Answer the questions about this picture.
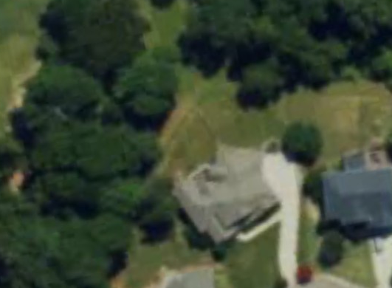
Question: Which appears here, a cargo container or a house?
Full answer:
This aerial view contains a house.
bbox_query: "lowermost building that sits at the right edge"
[323,167,392,234]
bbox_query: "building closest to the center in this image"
[172,145,282,242]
